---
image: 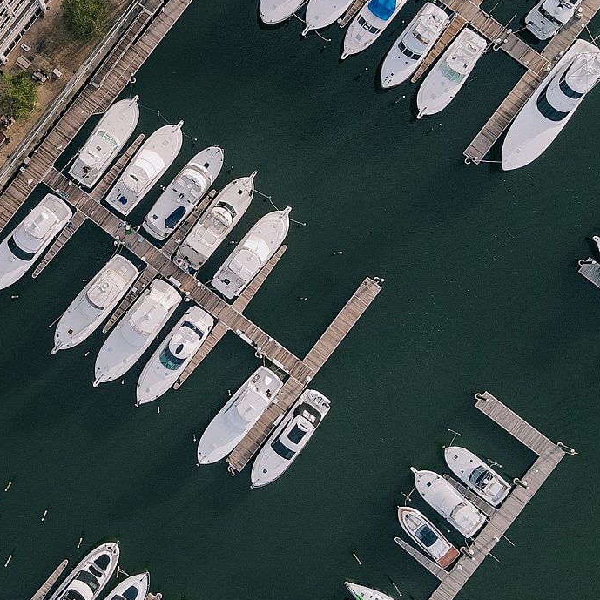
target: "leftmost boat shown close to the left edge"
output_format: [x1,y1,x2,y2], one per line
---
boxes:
[0,189,76,290]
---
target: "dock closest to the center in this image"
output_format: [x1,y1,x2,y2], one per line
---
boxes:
[33,133,381,470]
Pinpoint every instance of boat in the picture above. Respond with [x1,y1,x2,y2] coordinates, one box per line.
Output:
[196,361,287,468]
[173,171,261,274]
[342,0,405,58]
[302,0,354,35]
[380,1,469,88]
[140,145,226,243]
[501,14,600,169]
[93,276,182,388]
[443,445,510,505]
[342,579,398,600]
[249,388,326,490]
[51,252,140,354]
[519,0,586,44]
[418,8,520,118]
[104,570,150,600]
[410,467,486,536]
[0,189,76,290]
[135,307,212,406]
[105,121,186,218]
[210,207,295,301]
[49,542,121,600]
[68,94,140,189]
[395,505,460,568]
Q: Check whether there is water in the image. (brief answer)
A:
Yes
